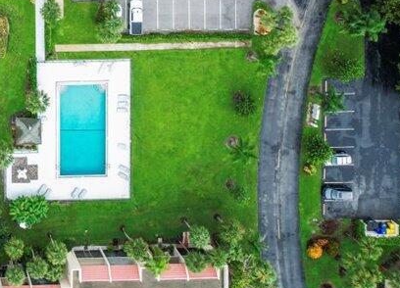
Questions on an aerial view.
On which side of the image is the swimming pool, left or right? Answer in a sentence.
The swimming pool sits on the left side.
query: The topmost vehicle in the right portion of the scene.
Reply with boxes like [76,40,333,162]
[323,151,353,166]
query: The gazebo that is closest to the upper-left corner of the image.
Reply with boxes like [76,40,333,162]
[13,114,43,145]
